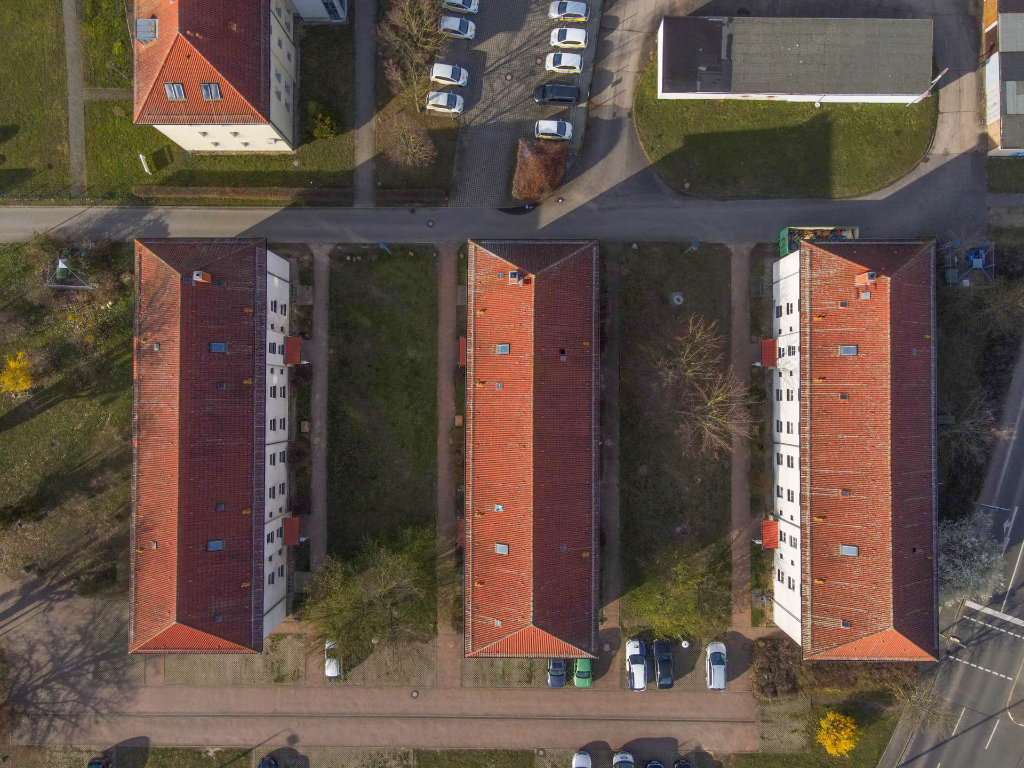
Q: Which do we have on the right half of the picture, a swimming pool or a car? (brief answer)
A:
car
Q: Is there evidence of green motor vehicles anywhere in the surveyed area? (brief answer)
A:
Yes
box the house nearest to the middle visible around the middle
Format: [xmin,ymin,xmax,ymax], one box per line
[457,238,601,659]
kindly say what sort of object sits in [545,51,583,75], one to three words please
car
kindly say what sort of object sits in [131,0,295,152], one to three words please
building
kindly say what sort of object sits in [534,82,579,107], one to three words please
car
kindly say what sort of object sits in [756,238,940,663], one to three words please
house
